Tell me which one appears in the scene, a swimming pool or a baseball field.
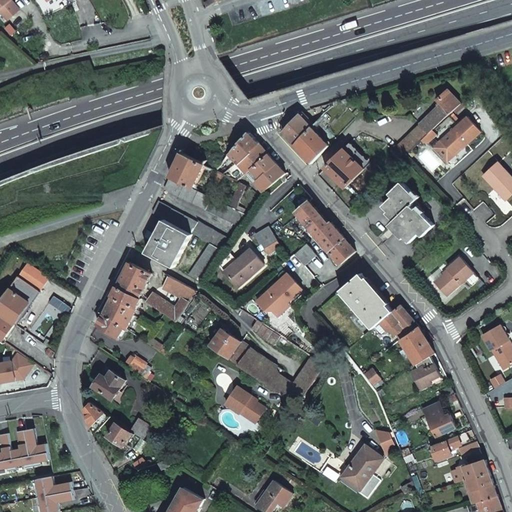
swimming pool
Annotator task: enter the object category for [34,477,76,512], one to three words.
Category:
house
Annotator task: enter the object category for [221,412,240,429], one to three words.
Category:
swimming pool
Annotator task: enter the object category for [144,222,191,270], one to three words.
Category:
building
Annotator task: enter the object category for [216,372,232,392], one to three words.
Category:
swimming pool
